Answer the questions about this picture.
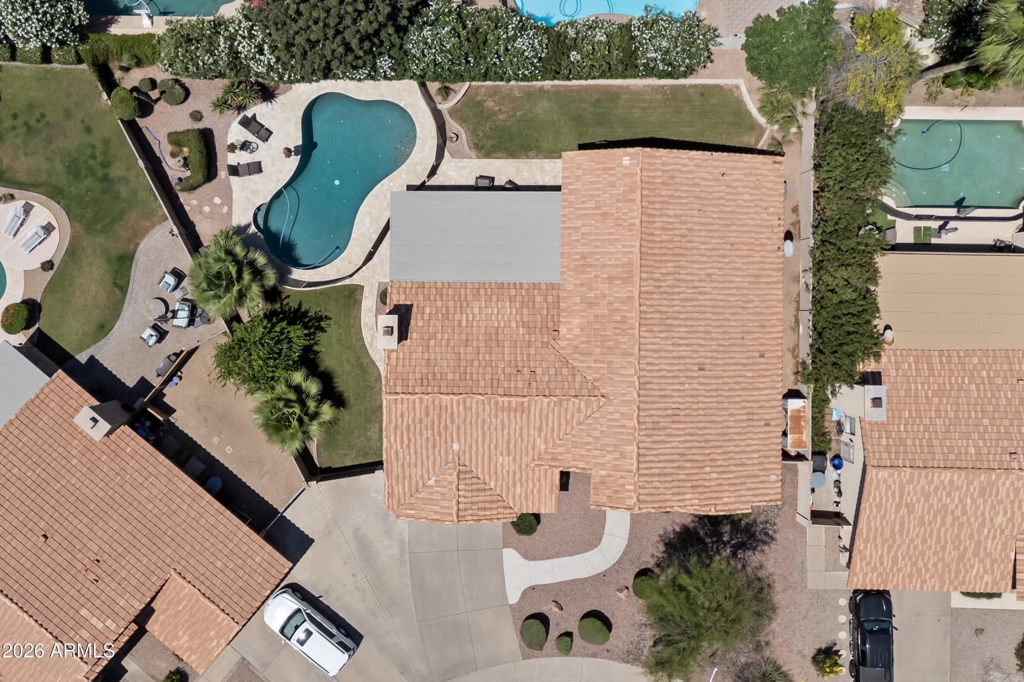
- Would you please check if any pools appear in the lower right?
No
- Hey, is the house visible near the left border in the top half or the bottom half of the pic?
bottom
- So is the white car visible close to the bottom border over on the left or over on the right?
left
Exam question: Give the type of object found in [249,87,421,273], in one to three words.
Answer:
swimming pool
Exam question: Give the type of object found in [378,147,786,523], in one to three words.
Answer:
house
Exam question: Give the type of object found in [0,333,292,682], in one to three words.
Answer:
house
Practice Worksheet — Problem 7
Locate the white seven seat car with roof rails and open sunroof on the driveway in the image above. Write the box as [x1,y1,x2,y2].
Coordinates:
[264,588,361,682]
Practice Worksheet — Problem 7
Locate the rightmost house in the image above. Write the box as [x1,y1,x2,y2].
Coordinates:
[836,251,1024,609]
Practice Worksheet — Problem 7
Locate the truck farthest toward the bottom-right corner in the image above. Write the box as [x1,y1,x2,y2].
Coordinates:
[845,589,902,682]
